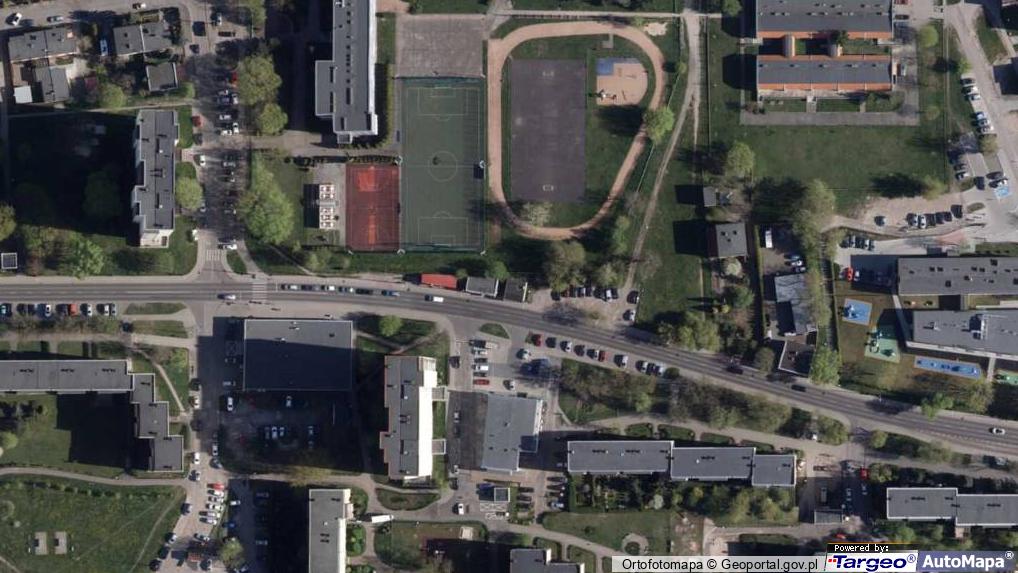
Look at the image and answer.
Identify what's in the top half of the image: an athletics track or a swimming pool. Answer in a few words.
athletics track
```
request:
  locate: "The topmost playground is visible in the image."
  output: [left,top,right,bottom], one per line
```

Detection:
[595,58,648,104]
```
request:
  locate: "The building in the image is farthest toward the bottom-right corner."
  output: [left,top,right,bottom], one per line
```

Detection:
[956,495,1018,528]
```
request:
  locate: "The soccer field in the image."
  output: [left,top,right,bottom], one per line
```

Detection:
[401,79,486,251]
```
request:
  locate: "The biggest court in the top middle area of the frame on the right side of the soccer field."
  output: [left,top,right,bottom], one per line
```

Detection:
[511,60,585,202]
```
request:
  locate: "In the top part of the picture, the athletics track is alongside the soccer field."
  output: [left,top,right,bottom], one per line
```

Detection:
[487,21,665,241]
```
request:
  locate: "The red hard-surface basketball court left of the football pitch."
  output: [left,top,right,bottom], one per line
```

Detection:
[347,164,399,250]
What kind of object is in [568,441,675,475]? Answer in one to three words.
building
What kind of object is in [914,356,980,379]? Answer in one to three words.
playground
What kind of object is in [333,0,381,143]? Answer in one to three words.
building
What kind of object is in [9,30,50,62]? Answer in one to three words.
house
